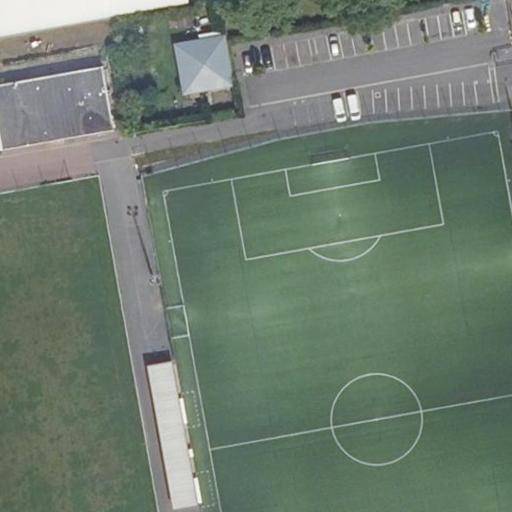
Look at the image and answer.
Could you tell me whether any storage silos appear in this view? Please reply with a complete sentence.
No, there appears to be no storage silo in this shot.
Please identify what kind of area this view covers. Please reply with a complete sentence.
The picture captures a sports ground.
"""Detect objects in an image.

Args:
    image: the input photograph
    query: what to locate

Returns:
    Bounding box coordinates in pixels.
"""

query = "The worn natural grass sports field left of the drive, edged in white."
[0,176,161,512]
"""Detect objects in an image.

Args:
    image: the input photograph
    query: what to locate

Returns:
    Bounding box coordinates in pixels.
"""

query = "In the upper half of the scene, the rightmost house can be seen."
[174,32,233,95]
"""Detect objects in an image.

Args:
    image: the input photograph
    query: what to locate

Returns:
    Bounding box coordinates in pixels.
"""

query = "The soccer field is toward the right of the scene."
[142,113,512,512]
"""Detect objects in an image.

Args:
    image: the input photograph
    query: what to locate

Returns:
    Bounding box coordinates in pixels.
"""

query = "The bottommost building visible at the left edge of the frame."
[0,68,113,150]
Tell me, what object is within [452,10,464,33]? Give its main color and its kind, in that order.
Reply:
white vehicle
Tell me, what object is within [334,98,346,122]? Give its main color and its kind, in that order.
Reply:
white vehicle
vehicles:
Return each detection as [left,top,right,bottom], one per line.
[329,35,340,58]
[242,56,252,76]
[262,46,274,68]
[452,10,464,33]
[250,48,261,69]
[348,96,360,121]
[334,98,346,122]
[465,6,476,28]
